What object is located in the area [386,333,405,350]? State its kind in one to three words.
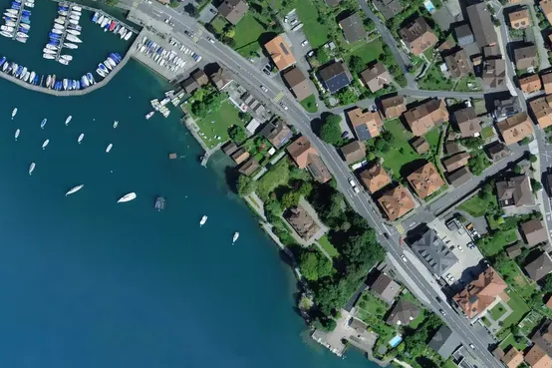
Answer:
swimming pool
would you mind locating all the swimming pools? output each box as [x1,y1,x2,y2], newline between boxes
[422,0,436,15]
[386,333,405,350]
